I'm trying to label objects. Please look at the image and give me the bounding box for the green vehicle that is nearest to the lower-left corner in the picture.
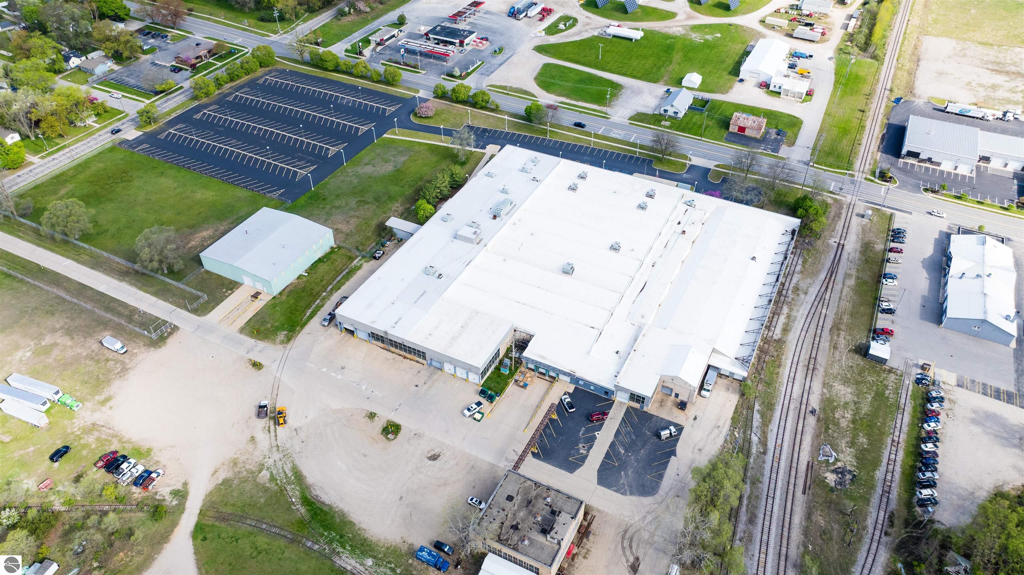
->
[55,393,84,411]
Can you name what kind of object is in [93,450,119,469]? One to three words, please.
vehicle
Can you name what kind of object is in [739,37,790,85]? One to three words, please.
barn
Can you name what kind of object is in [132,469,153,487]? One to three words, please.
car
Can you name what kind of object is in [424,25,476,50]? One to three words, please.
building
